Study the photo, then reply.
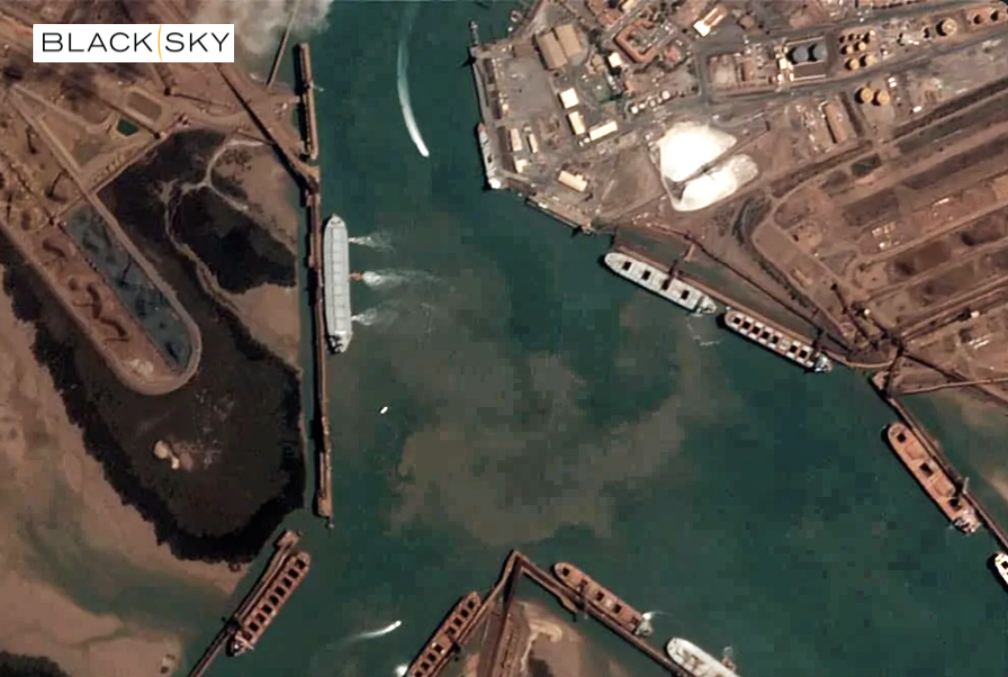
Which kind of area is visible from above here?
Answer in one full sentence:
The area seen from above is a port.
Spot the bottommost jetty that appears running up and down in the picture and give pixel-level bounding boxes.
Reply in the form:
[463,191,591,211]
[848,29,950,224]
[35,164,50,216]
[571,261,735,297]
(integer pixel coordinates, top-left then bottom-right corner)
[313,176,333,515]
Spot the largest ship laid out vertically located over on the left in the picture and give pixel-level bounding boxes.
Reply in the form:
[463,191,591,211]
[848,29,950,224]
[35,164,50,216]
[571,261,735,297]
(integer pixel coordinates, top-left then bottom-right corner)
[323,214,351,354]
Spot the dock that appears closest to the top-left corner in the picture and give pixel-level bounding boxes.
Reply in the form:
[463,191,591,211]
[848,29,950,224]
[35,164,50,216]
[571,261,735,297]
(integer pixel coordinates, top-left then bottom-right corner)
[300,43,318,156]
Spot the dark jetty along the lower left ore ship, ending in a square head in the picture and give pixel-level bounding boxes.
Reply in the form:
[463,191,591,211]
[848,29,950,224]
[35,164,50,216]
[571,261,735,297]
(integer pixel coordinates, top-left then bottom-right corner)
[227,540,290,623]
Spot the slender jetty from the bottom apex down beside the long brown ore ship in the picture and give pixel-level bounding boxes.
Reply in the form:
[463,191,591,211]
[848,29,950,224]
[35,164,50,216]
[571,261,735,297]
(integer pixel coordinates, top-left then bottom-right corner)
[431,553,515,677]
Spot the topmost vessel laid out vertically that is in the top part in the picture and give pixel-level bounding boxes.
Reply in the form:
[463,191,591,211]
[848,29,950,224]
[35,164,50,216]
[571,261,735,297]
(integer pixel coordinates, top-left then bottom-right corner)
[476,122,502,193]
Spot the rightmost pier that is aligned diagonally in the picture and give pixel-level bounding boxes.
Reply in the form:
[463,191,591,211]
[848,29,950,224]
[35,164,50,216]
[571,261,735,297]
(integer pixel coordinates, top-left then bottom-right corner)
[882,390,1008,550]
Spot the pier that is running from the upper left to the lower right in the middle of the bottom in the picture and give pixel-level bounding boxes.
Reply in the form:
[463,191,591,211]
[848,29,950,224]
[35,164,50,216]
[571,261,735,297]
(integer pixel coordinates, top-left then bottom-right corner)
[515,550,692,677]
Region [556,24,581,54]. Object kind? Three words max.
building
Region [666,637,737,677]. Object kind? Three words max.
ship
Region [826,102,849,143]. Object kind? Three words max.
building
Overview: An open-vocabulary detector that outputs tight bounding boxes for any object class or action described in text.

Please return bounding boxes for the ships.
[724,310,835,372]
[602,250,719,314]
[323,214,351,354]
[666,637,737,677]
[994,550,1008,585]
[891,419,980,535]
[402,589,479,677]
[476,122,502,193]
[230,550,312,659]
[554,563,652,638]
